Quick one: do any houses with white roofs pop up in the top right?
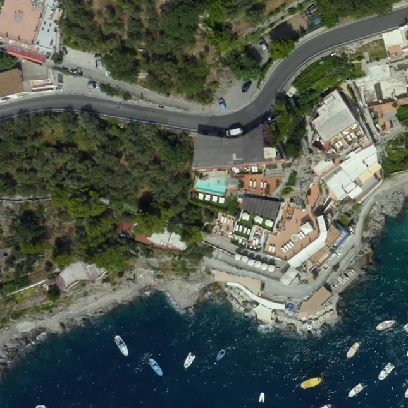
Yes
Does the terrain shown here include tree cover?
Yes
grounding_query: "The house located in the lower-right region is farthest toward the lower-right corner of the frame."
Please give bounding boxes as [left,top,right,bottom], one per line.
[299,286,333,318]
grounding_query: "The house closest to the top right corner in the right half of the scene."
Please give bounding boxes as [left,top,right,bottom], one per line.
[383,26,408,57]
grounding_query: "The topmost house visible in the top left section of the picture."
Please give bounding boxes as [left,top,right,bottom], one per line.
[0,0,71,52]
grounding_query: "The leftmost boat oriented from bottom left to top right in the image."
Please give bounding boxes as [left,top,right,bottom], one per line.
[184,352,197,369]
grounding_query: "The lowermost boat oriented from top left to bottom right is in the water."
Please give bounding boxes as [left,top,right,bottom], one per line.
[148,357,161,376]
